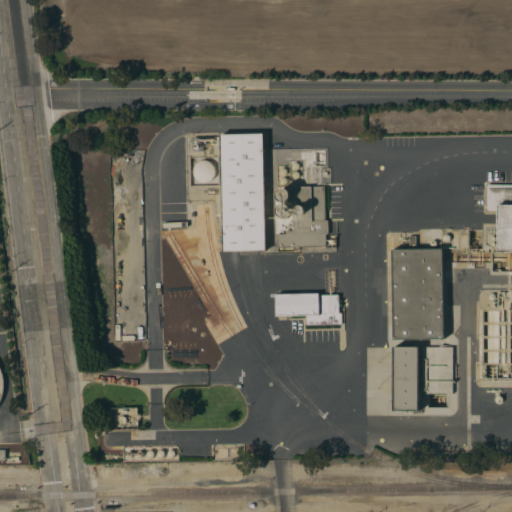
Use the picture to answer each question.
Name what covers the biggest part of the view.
paved ground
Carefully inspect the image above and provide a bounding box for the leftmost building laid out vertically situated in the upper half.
[222,134,264,250]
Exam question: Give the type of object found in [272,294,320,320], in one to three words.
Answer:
building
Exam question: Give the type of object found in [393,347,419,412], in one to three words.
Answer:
building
